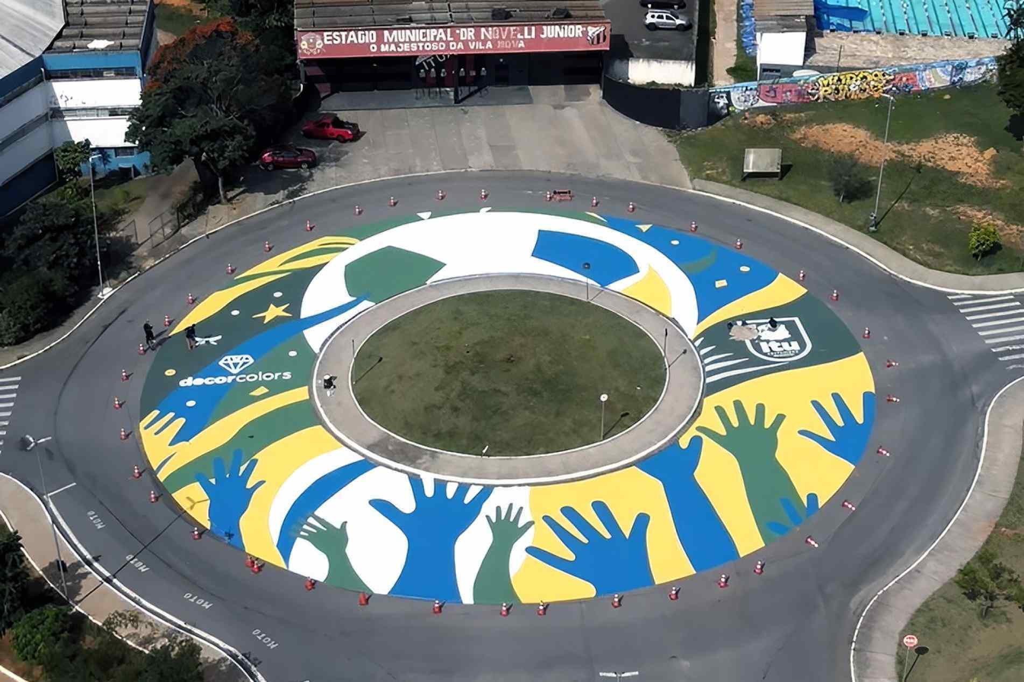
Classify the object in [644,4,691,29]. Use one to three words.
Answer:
car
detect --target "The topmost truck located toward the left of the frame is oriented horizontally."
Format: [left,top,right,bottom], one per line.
[302,114,358,140]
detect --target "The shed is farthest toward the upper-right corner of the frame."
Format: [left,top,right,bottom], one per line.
[756,0,819,79]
